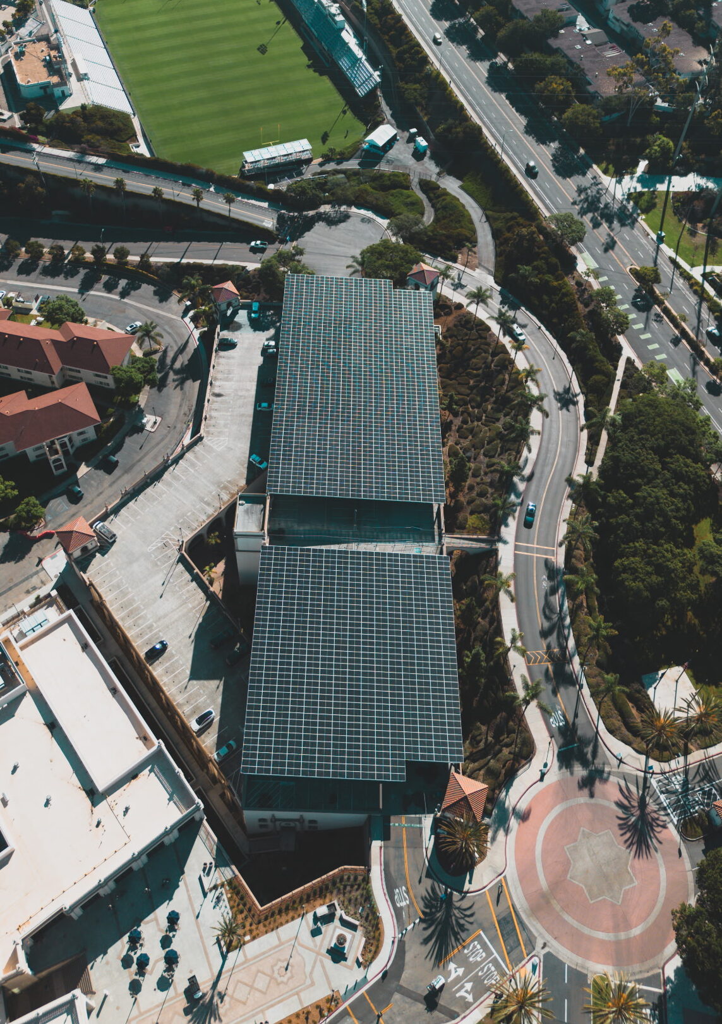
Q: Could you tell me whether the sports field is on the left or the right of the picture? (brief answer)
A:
left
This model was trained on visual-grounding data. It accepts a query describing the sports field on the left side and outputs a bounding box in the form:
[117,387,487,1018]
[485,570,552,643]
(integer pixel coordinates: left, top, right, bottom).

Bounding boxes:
[97,0,365,175]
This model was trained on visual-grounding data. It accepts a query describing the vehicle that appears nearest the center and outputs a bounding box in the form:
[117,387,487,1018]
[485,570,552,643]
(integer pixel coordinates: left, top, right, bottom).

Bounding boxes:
[249,452,268,468]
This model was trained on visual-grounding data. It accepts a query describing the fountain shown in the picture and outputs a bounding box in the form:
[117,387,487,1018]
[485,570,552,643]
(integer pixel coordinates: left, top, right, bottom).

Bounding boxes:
[331,928,352,953]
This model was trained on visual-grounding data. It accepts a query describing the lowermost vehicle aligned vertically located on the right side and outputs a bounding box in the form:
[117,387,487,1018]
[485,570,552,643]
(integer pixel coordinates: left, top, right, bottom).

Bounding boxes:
[525,501,537,523]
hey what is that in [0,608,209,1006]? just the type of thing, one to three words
building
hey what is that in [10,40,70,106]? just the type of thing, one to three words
building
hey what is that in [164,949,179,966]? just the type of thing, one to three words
umbrella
